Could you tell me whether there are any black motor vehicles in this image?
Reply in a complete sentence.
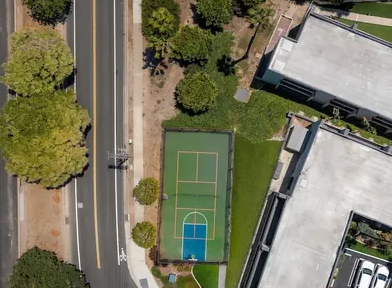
No, I can see no black motor vehicle in this picture.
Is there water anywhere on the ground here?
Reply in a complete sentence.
No, there's no water in this view.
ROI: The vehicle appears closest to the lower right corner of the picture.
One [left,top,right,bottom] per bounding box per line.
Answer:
[371,265,390,288]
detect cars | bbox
[354,260,376,288]
[371,265,390,288]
